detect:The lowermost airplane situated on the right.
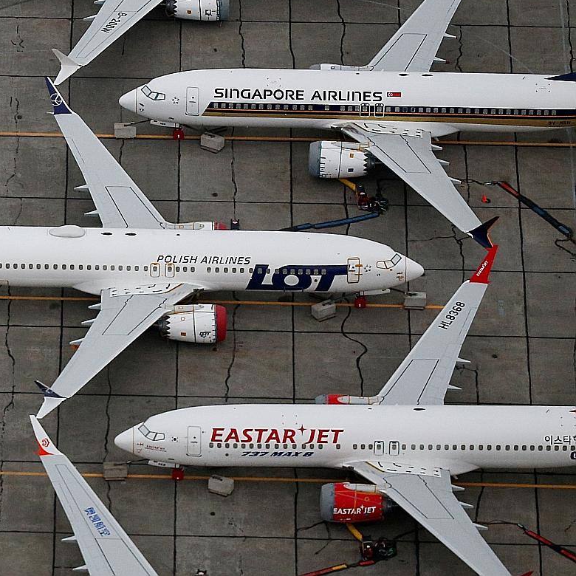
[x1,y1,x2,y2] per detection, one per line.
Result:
[116,245,576,576]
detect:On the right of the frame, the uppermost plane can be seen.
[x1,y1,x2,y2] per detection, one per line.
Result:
[121,0,576,251]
